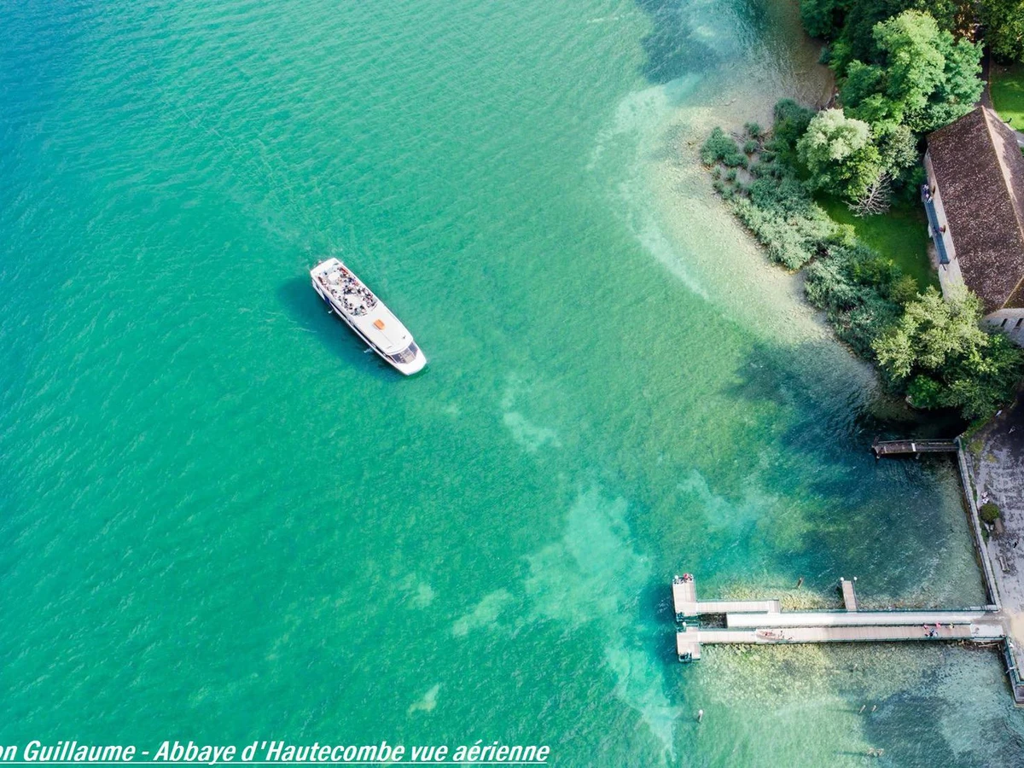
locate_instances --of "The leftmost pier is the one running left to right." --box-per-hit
[675,578,780,624]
